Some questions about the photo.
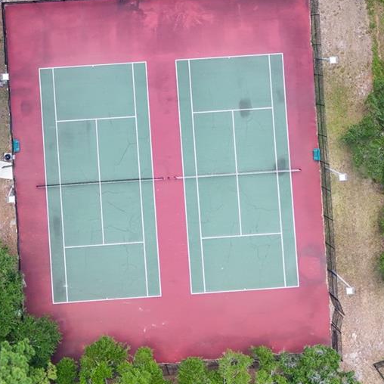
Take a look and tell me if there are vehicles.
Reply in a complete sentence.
No, no vehicle is visible in the view.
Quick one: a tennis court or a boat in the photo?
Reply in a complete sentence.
The one in the frame is a tennis court.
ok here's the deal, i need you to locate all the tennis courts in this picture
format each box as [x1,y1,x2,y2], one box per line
[176,53,299,294]
[39,61,161,304]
